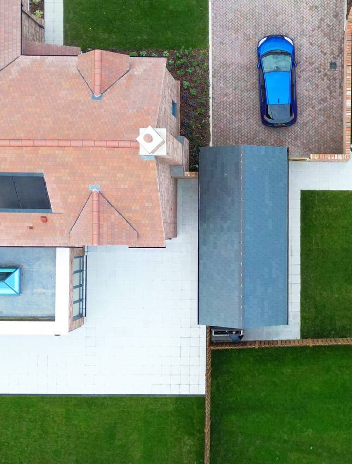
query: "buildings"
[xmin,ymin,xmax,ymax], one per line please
[0,0,189,336]
[197,145,289,328]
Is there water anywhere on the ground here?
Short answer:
No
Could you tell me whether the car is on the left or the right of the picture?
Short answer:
right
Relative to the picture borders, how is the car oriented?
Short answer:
vertically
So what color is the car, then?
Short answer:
blue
